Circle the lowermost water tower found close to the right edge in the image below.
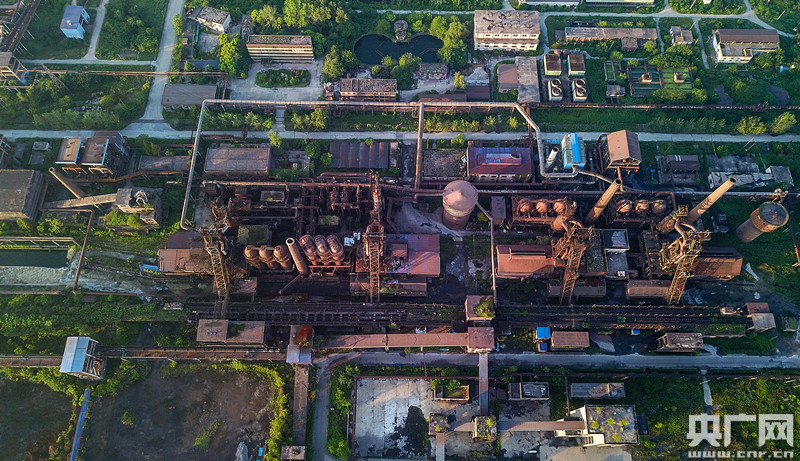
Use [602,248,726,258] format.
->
[730,199,791,247]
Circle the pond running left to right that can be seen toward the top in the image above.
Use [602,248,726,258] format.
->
[353,34,445,65]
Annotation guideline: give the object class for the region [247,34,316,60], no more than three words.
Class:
building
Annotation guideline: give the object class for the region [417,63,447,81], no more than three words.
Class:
shed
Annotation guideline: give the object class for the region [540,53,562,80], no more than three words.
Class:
cooling tower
